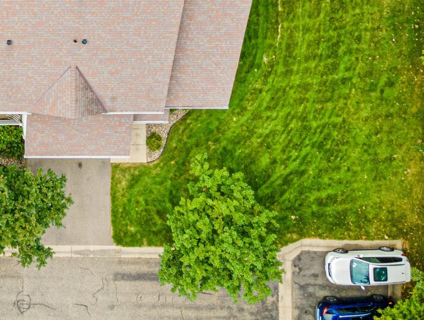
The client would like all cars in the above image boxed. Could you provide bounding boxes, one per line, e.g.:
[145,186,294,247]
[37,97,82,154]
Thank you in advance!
[314,290,407,320]
[321,243,415,290]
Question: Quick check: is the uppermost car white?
Yes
